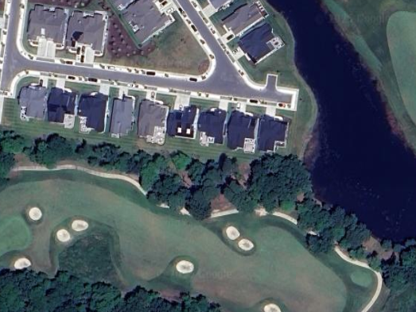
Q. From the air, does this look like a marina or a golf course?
golf course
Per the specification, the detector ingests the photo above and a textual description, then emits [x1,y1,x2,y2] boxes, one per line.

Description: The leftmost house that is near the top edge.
[28,8,65,48]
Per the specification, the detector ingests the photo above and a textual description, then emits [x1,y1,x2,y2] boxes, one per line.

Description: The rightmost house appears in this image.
[257,118,288,149]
